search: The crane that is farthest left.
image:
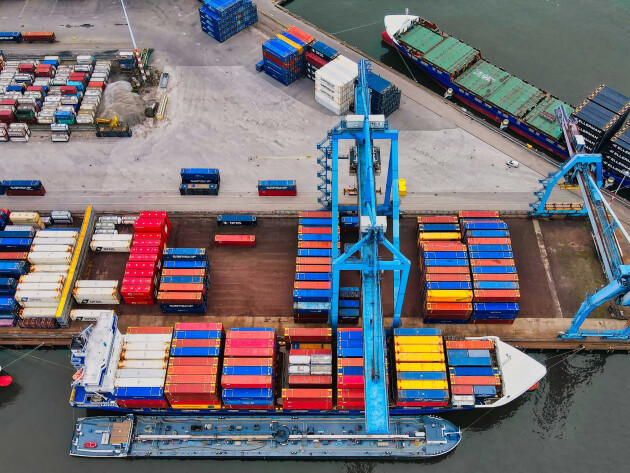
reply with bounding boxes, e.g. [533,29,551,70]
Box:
[315,60,411,433]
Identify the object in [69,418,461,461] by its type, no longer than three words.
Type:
ship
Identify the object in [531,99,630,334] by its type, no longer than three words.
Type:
container crane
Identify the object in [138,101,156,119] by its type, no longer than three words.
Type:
vehicle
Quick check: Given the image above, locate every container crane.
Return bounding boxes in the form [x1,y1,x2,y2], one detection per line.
[531,99,630,334]
[315,60,411,433]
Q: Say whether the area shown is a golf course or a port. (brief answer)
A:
port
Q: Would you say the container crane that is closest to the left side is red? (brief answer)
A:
No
